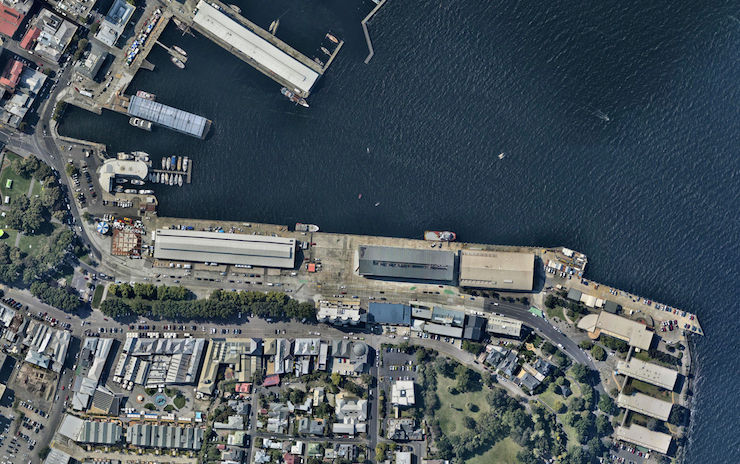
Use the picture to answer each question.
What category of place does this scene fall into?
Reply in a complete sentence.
The area seen from above is a port.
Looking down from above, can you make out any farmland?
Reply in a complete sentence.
No, no farmland is visible.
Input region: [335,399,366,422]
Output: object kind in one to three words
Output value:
building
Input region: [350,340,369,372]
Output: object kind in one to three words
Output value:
building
